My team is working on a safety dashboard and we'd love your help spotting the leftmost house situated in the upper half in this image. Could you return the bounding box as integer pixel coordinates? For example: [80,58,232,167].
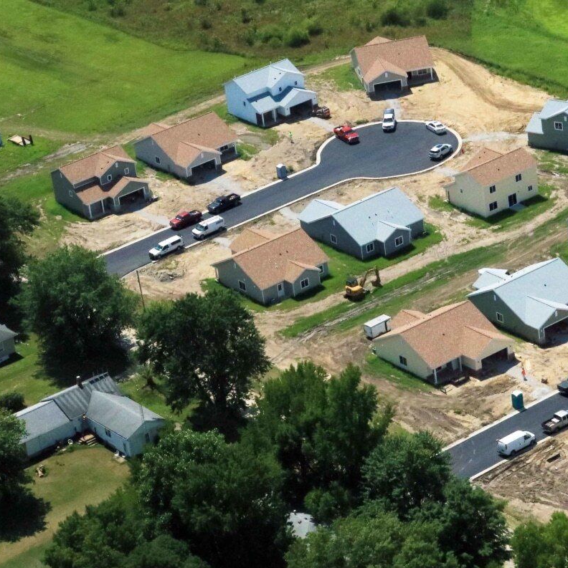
[49,144,150,217]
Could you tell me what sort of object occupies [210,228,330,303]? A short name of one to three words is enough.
house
